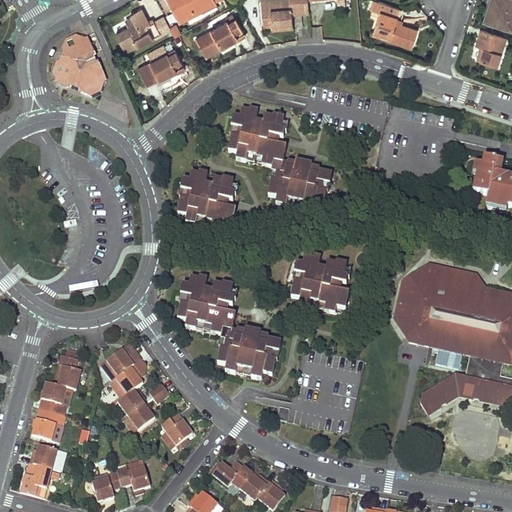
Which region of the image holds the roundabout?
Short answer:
left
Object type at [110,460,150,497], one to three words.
house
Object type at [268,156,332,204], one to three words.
building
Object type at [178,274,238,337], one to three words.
building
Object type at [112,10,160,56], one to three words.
house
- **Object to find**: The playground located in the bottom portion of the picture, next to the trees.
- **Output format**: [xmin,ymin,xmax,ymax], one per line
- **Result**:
[450,406,512,466]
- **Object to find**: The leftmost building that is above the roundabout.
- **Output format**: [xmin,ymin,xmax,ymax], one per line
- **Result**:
[52,32,106,97]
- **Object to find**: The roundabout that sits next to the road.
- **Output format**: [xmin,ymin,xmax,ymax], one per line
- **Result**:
[0,100,169,340]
